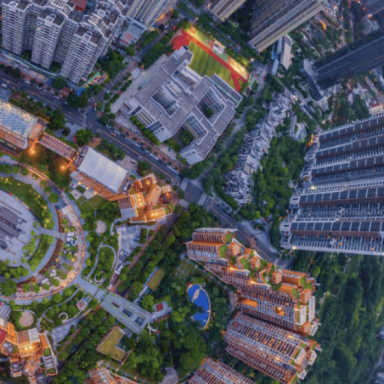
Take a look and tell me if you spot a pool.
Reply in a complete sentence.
Yes, you can see a pool in this photo.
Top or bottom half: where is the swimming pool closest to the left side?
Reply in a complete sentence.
The swimming pool closest to the left side is in the bottom half of the image.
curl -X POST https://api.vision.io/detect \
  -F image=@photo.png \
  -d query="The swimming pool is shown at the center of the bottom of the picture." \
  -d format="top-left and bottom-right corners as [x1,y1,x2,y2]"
[185,282,214,330]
